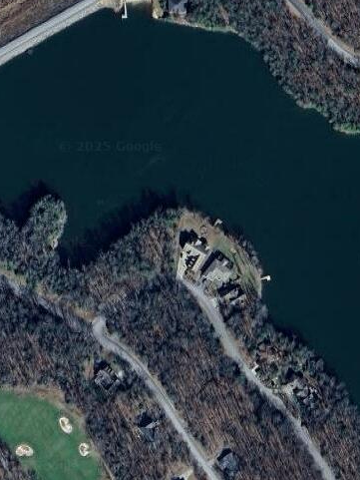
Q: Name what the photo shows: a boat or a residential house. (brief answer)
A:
residential house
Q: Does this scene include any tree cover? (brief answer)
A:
Yes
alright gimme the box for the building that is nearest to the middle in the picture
[181,231,207,263]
